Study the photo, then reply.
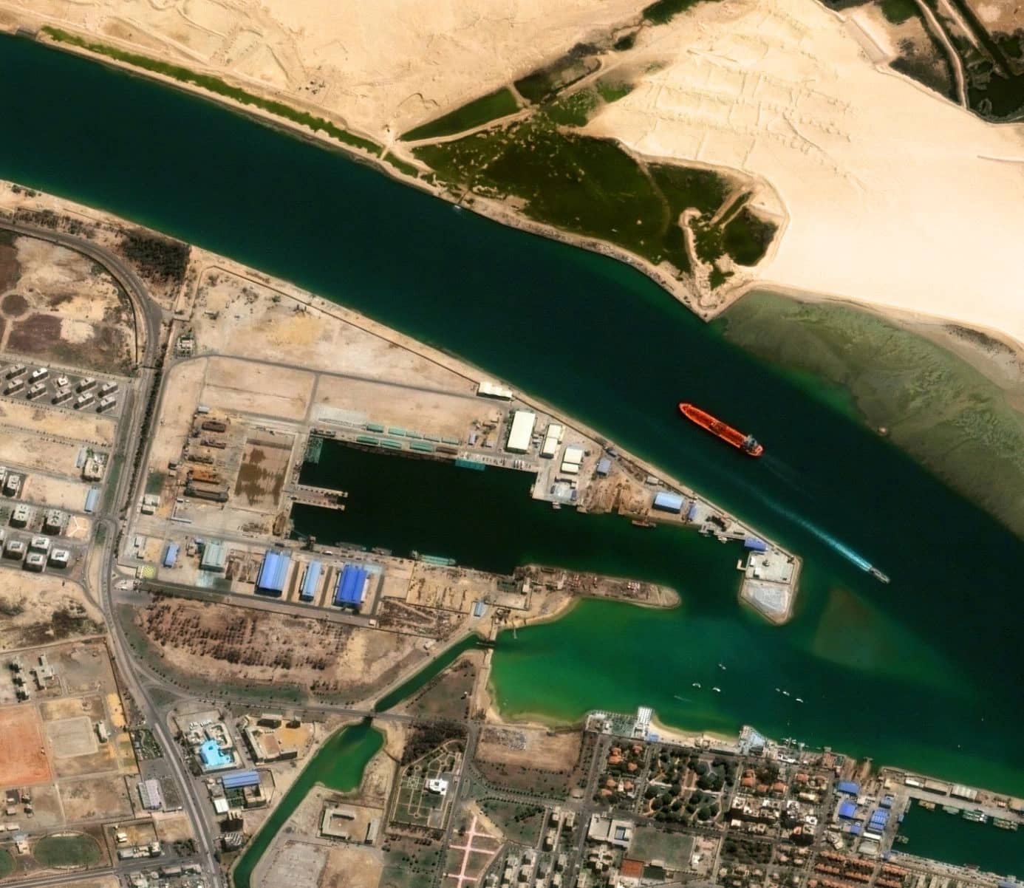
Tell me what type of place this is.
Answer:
port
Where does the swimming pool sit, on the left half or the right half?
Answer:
left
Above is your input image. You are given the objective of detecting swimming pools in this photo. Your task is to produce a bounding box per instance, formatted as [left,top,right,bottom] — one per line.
[200,740,234,765]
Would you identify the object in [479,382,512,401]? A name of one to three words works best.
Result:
building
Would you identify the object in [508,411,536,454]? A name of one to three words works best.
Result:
building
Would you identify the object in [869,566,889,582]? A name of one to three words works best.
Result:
boat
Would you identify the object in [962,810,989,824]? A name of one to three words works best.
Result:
ship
